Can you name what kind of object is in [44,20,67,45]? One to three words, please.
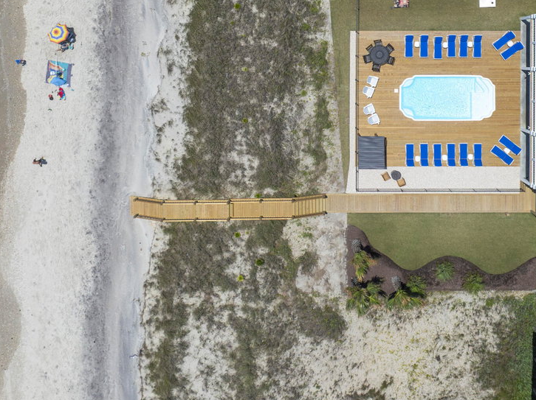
umbrella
